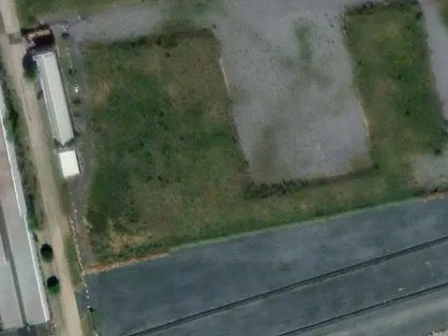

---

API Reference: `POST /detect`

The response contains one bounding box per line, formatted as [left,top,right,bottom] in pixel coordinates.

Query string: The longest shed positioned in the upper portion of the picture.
[33,52,74,144]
